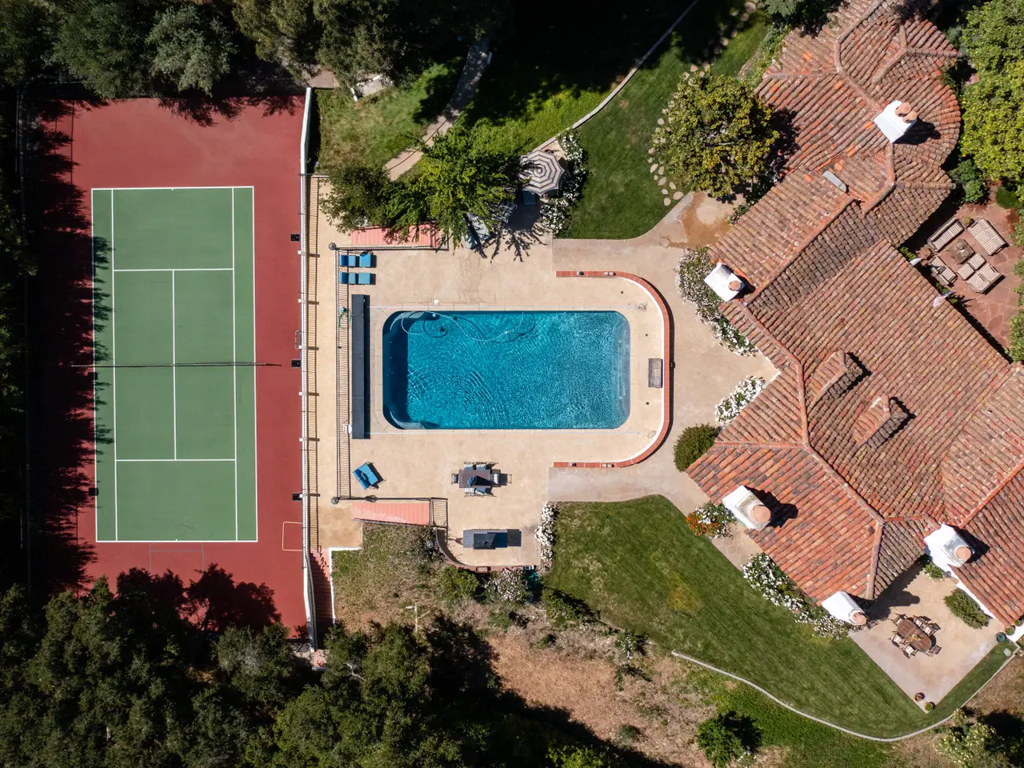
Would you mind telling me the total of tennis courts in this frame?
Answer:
1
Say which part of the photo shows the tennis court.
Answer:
left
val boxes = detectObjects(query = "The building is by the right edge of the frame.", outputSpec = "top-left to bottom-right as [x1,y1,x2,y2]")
[687,0,1024,629]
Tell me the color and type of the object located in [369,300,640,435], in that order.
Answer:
blue swimming pool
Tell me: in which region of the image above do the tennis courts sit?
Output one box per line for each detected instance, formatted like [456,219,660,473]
[38,92,319,635]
